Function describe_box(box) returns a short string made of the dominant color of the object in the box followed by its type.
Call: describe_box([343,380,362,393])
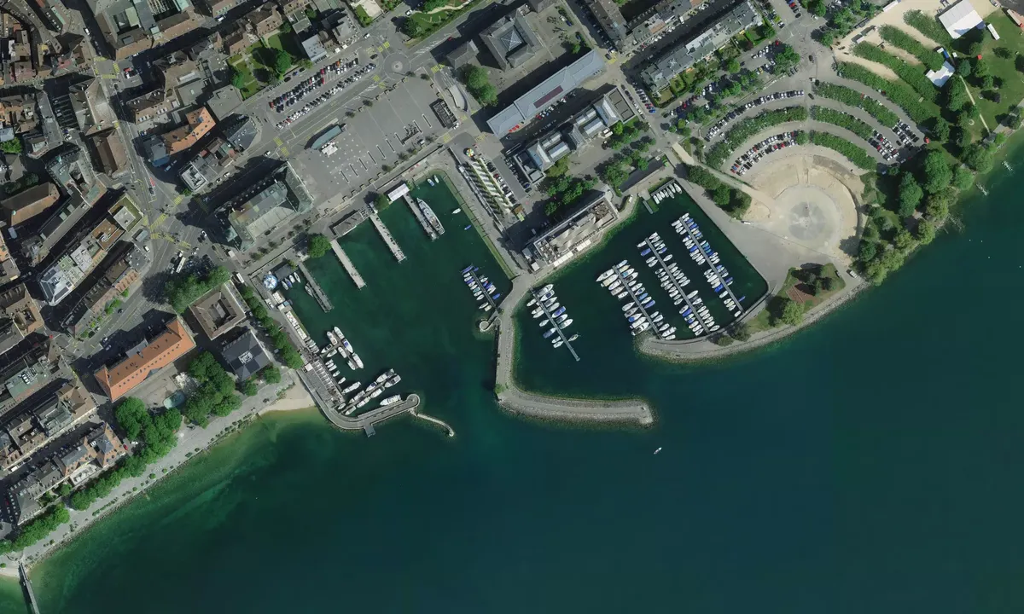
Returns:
white boat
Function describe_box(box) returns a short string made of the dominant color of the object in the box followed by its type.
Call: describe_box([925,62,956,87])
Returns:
white tent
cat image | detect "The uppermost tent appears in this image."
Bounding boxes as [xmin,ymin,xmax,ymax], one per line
[938,0,983,39]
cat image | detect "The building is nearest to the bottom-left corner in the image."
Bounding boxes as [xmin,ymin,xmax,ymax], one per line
[8,478,46,518]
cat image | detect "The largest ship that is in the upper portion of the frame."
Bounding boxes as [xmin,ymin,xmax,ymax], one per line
[416,197,445,236]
